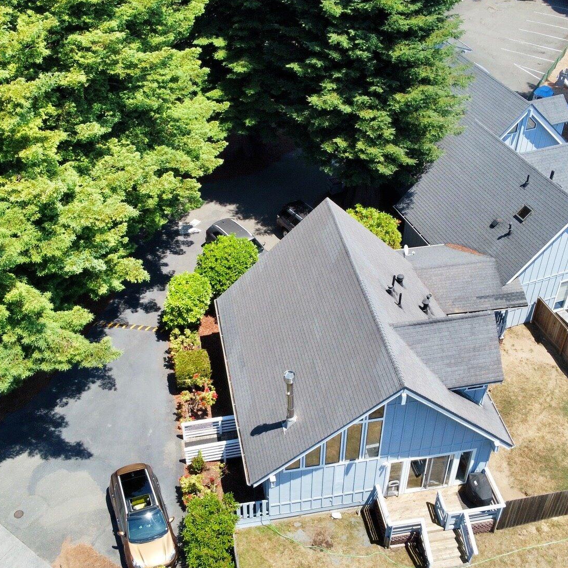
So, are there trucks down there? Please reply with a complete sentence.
No, I can't see a single truck in this photo.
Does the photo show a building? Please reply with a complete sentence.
Yes, this view includes a building.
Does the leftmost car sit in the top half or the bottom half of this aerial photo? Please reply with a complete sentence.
The leftmost car is in the bottom half of the image.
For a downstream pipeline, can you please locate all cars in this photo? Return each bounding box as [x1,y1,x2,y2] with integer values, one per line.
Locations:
[278,205,311,237]
[209,222,267,274]
[112,466,179,568]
